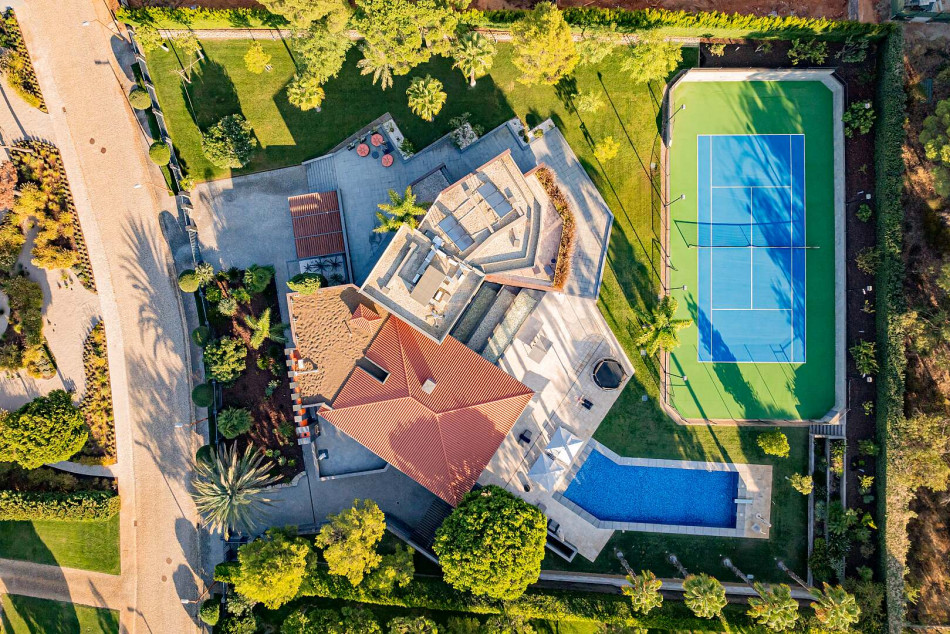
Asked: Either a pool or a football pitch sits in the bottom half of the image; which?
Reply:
pool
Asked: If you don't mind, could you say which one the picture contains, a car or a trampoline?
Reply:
trampoline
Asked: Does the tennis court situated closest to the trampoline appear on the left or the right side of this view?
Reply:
right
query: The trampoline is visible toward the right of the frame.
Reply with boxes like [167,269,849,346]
[589,356,628,393]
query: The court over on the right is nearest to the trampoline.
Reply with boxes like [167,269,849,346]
[657,68,848,426]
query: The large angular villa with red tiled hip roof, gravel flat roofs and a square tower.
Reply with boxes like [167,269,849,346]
[285,150,563,507]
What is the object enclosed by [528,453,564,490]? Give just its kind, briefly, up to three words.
umbrella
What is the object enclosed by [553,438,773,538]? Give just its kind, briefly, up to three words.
swimming pool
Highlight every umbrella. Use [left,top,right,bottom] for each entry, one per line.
[528,453,564,490]
[546,427,584,465]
